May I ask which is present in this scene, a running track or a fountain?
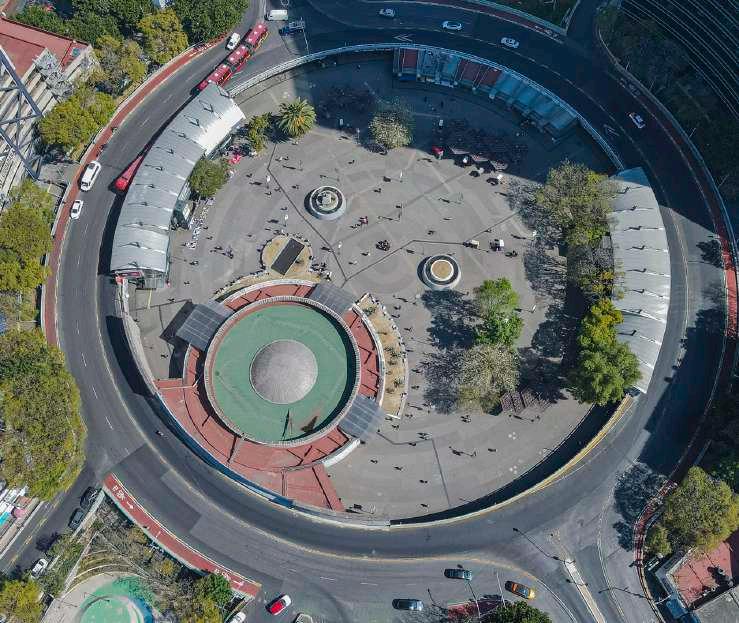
fountain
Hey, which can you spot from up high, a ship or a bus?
bus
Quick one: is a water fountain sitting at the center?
Yes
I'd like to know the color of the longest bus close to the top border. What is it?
red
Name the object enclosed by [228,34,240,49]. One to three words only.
vehicle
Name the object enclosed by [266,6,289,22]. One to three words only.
vehicle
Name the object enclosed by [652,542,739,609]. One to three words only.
building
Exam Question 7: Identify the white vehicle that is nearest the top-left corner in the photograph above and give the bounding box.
[83,162,101,187]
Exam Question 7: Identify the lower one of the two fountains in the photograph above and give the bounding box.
[421,252,461,289]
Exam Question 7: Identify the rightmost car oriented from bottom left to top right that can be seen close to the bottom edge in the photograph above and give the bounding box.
[265,593,292,615]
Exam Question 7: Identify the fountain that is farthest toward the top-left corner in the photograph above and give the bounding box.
[307,185,345,220]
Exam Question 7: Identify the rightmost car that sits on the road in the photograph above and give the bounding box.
[627,113,646,130]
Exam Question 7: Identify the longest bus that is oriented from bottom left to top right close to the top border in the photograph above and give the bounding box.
[191,23,271,98]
